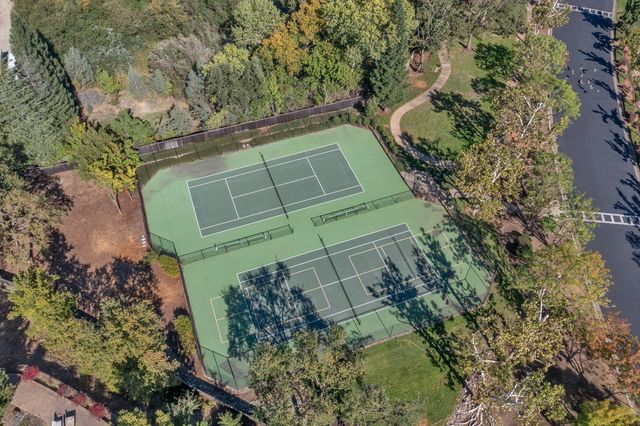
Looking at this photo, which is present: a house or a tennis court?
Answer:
tennis court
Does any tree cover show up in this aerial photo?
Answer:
Yes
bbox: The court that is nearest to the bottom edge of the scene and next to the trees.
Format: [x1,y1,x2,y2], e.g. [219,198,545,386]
[181,198,491,392]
